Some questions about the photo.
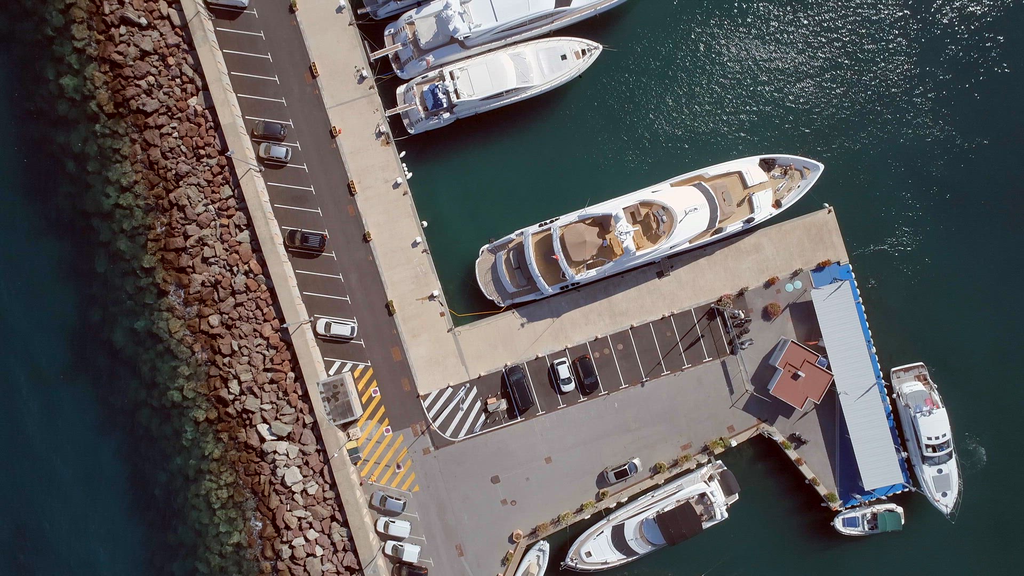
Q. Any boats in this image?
Yes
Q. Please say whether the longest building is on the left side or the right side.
right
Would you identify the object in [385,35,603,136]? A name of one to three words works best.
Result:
boat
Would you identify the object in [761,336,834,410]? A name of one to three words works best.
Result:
building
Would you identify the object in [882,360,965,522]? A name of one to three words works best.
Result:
boat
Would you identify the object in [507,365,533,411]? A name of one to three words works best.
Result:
vehicle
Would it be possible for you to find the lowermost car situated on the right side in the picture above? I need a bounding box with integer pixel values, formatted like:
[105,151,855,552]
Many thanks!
[603,457,642,484]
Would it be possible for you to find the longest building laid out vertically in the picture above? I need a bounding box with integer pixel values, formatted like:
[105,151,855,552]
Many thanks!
[805,280,904,491]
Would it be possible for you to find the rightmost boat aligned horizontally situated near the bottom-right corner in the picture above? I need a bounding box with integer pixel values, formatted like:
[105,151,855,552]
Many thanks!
[828,501,904,537]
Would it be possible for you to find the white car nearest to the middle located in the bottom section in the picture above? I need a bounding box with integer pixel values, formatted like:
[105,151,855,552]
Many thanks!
[553,357,574,393]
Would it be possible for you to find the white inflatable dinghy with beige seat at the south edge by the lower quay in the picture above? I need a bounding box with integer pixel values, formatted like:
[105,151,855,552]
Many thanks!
[514,538,550,576]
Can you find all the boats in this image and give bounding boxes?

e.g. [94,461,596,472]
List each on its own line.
[385,35,603,136]
[365,0,634,83]
[514,538,550,576]
[475,154,824,306]
[828,501,904,537]
[882,360,965,522]
[357,0,437,26]
[560,456,739,569]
